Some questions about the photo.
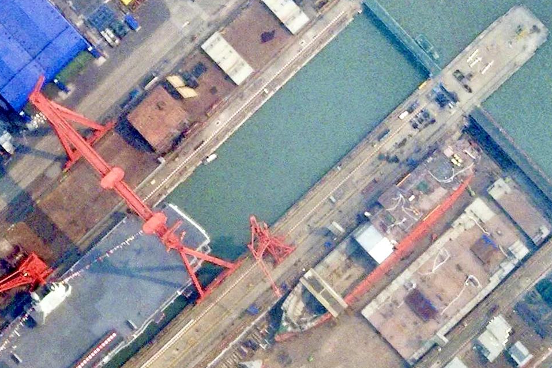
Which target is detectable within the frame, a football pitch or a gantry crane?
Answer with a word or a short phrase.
gantry crane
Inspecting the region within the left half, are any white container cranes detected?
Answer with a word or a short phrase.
No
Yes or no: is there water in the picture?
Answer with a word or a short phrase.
Yes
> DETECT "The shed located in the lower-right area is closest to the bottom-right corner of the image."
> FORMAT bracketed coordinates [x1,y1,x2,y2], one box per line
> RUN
[508,342,534,366]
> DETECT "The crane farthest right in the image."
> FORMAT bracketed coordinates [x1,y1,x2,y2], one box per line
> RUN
[248,217,294,302]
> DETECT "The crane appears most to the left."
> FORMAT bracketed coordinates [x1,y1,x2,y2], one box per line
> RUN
[0,251,57,292]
